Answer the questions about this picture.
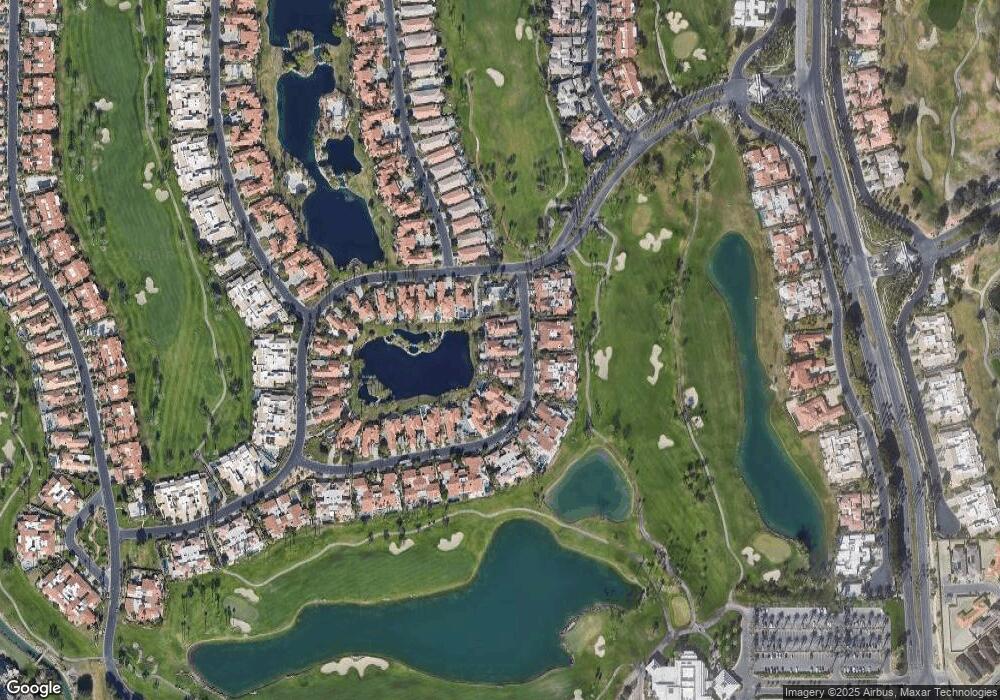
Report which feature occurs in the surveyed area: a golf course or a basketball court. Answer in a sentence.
Of the two, only a golf course appears.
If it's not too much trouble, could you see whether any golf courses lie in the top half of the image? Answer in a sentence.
Yes, in the top half of the image there is a golf course.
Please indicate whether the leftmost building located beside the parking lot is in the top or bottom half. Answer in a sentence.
Seen from above, the leftmost building located beside the parking lot lies in the bottom half of the view.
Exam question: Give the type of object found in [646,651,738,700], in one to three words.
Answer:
building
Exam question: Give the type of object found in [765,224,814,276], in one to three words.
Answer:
house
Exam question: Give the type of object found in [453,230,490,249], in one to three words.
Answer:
house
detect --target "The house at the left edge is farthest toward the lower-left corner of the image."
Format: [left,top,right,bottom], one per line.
[39,562,100,626]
